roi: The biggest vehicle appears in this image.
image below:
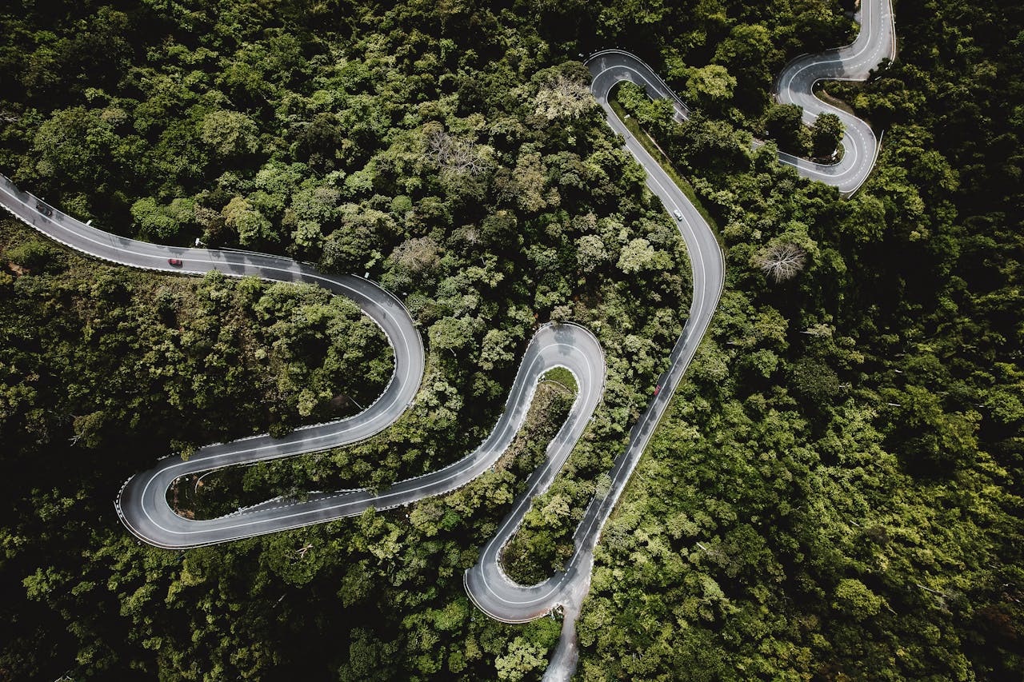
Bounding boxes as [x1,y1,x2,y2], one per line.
[34,202,54,217]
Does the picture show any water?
No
